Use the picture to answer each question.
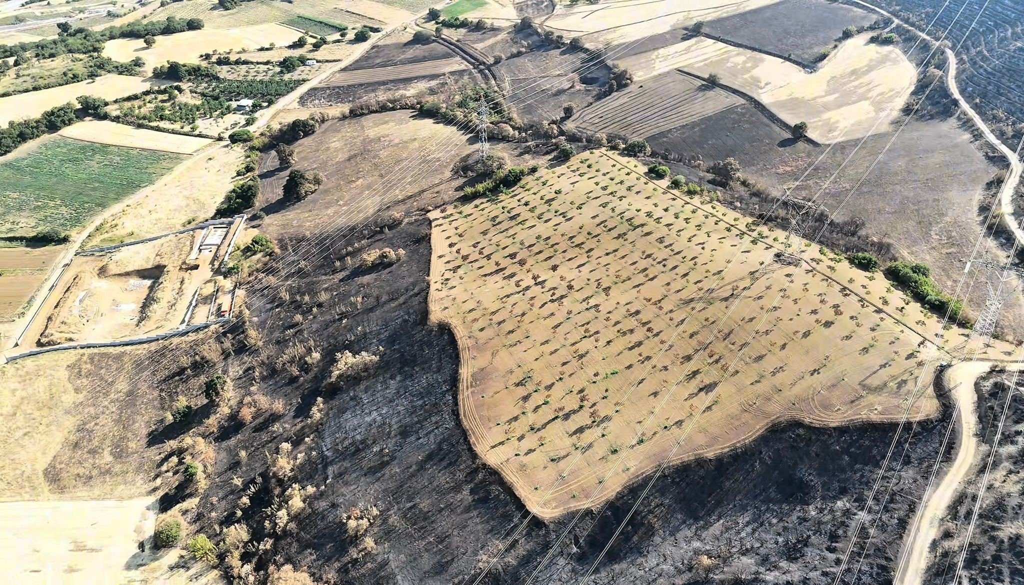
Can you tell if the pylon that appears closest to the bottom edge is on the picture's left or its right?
right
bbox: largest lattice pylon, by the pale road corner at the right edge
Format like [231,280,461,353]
[957,254,1024,360]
